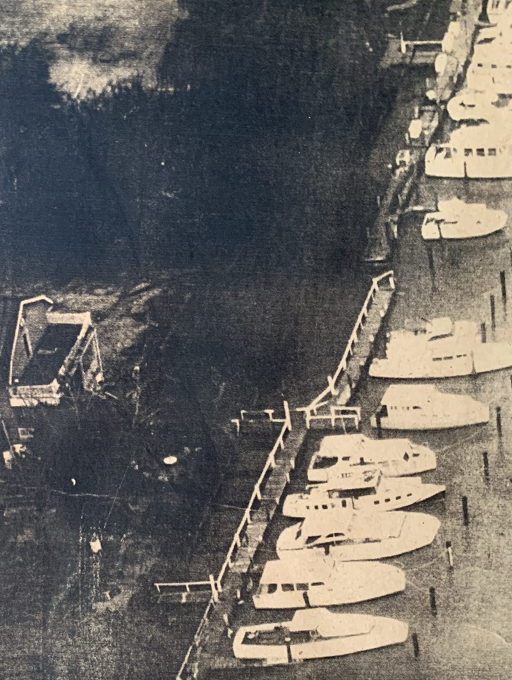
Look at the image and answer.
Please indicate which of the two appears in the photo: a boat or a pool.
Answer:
boat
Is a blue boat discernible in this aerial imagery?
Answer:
No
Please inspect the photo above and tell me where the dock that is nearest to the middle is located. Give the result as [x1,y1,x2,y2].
[314,288,399,427]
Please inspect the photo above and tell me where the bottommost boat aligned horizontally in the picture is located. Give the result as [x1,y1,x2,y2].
[234,614,407,666]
